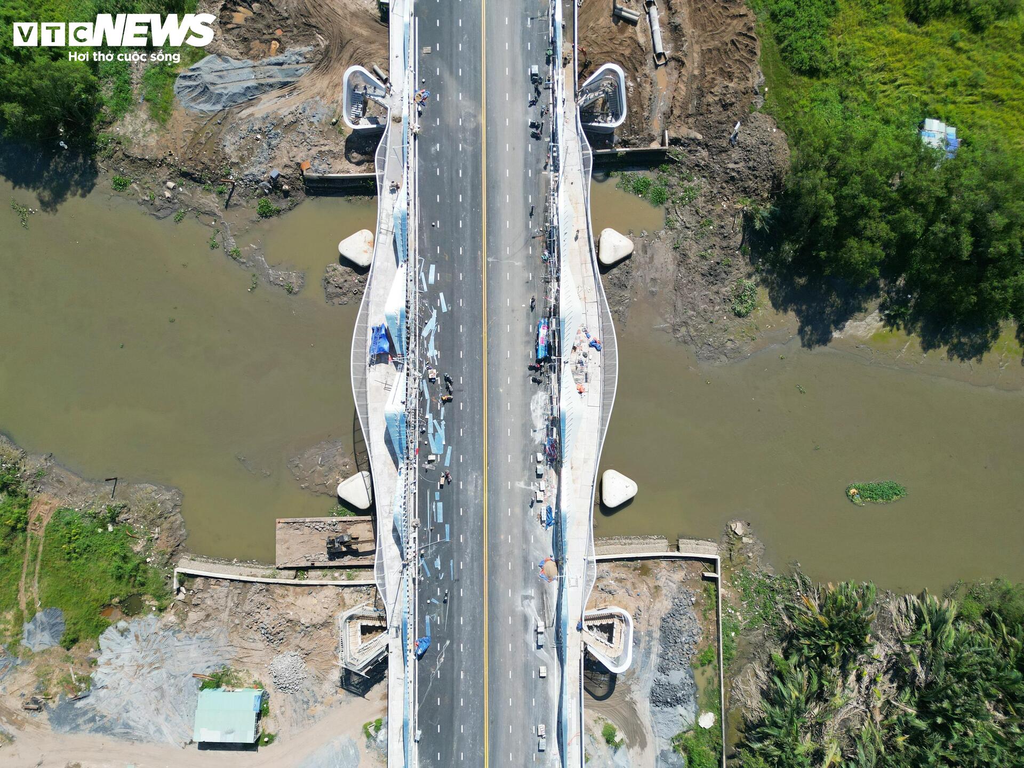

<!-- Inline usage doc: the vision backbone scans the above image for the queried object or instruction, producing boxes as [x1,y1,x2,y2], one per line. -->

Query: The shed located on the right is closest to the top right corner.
[921,118,961,156]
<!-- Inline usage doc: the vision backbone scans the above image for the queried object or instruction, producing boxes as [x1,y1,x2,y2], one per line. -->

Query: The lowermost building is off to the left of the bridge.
[194,685,265,742]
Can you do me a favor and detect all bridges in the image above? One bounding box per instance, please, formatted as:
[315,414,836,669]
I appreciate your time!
[350,0,619,768]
